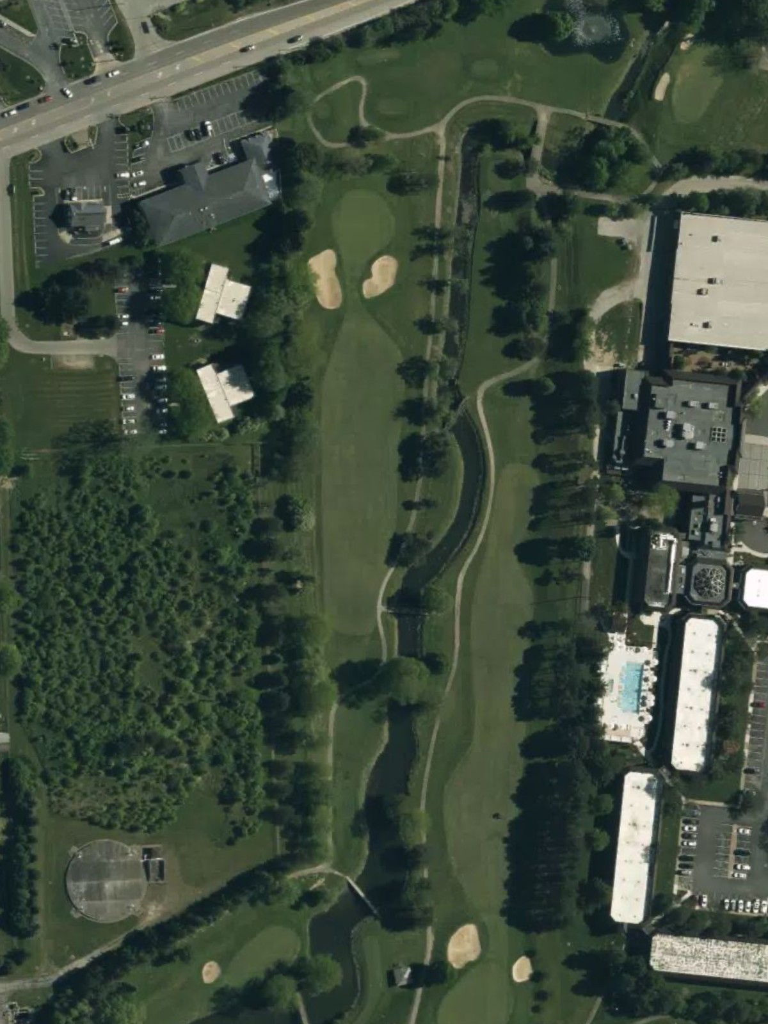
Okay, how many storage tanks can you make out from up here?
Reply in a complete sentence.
My tally gives 1 storage tank in this photo.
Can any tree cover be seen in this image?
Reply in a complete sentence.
Yes, the picture does contain tree cover.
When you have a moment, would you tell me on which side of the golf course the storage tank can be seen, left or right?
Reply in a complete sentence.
The storage tank is to the left of the golf course.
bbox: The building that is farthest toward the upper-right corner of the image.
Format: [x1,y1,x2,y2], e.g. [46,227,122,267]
[667,213,768,351]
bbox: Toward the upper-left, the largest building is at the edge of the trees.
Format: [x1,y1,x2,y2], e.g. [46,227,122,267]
[141,133,276,247]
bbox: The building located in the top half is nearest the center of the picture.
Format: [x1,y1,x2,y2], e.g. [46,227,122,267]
[196,364,253,423]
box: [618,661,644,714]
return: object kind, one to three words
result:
swimming pool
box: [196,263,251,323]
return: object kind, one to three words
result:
building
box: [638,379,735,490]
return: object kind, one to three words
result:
building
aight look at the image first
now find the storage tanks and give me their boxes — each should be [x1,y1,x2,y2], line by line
[65,840,147,921]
